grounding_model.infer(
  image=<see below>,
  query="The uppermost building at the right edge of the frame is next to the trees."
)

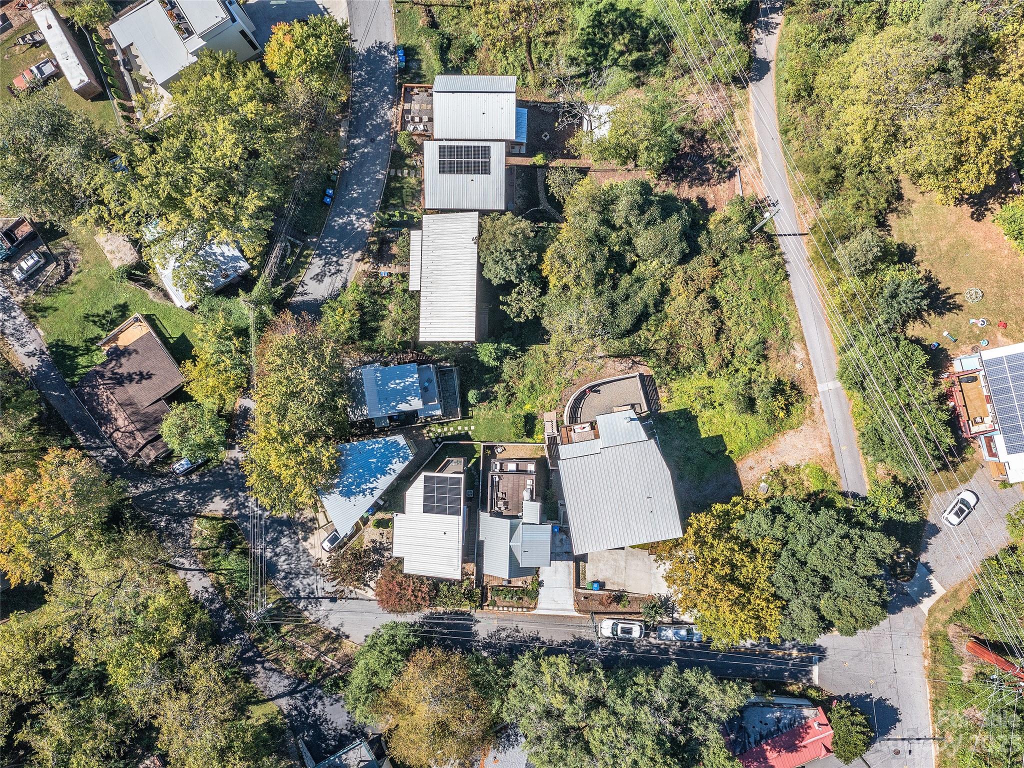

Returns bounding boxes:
[918,341,1024,483]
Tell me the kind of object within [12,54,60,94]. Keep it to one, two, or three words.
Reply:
truck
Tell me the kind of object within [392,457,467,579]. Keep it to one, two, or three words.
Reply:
house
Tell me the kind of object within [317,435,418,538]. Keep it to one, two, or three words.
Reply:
house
